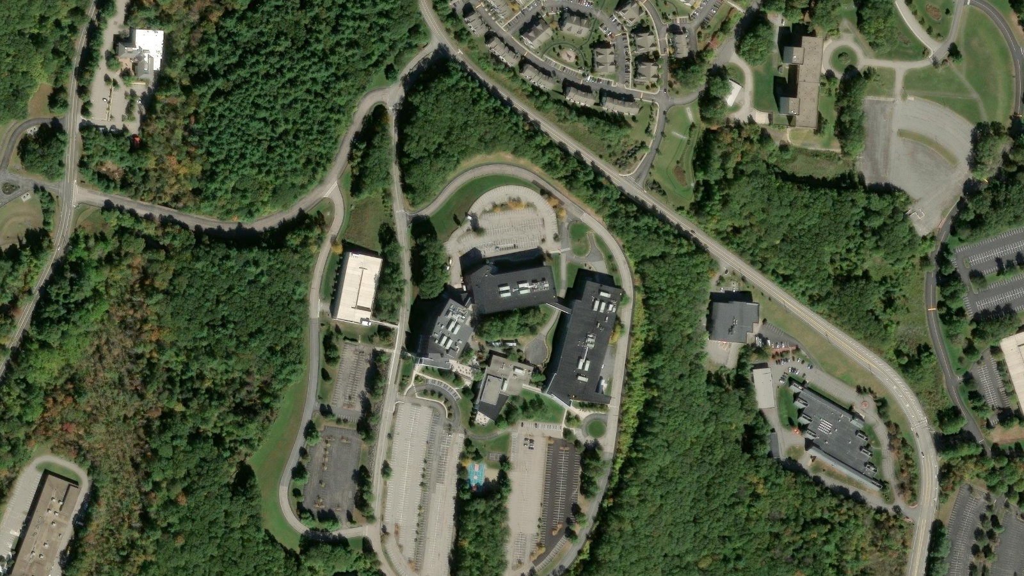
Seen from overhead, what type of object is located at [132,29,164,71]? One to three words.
building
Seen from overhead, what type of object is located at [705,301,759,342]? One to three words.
building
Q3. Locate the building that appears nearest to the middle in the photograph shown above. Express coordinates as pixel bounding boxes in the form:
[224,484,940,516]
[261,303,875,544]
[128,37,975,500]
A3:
[465,265,558,314]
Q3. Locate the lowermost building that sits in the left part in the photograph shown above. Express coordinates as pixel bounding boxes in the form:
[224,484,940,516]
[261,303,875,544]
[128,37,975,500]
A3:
[10,475,79,576]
